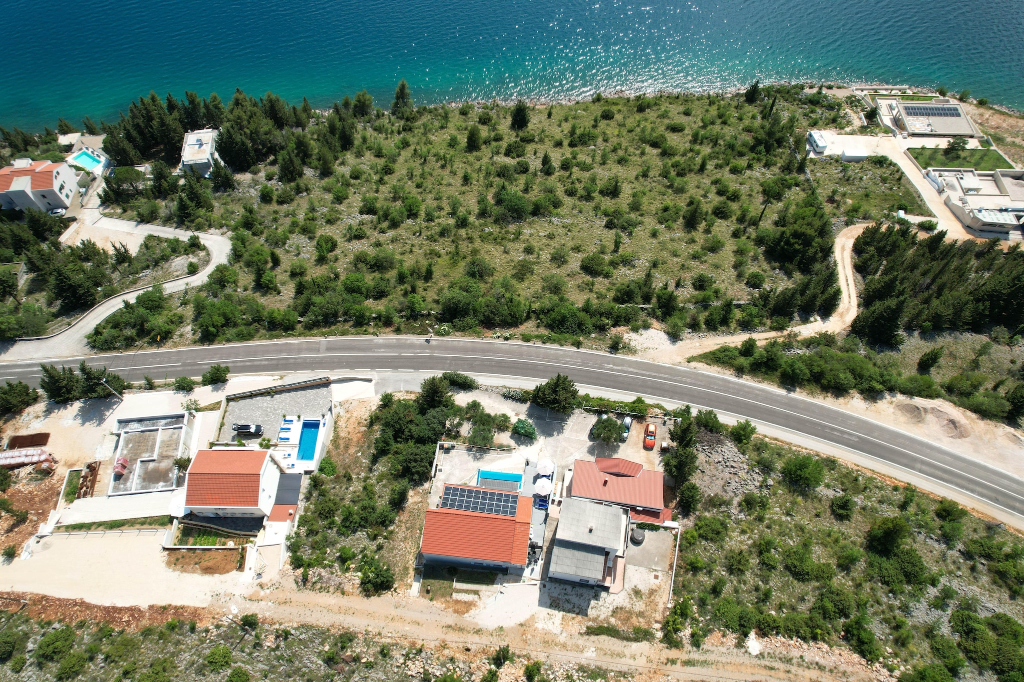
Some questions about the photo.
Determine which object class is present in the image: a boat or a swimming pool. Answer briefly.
swimming pool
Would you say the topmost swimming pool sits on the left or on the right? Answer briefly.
left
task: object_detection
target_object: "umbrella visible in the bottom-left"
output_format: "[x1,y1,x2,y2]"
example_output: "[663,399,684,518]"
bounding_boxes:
[167,494,192,520]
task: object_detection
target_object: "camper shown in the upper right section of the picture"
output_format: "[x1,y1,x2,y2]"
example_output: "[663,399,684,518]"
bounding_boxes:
[807,130,827,153]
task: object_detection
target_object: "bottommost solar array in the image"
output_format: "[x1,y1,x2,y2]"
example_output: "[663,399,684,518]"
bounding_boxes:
[440,486,519,516]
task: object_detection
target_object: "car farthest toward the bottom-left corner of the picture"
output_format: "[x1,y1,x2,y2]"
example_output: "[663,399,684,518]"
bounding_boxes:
[229,422,264,437]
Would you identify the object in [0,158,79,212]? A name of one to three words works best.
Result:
house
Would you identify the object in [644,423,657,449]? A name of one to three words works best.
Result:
vehicle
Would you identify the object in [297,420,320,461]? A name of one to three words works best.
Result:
swimming pool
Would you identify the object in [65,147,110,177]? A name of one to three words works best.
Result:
swimming pool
